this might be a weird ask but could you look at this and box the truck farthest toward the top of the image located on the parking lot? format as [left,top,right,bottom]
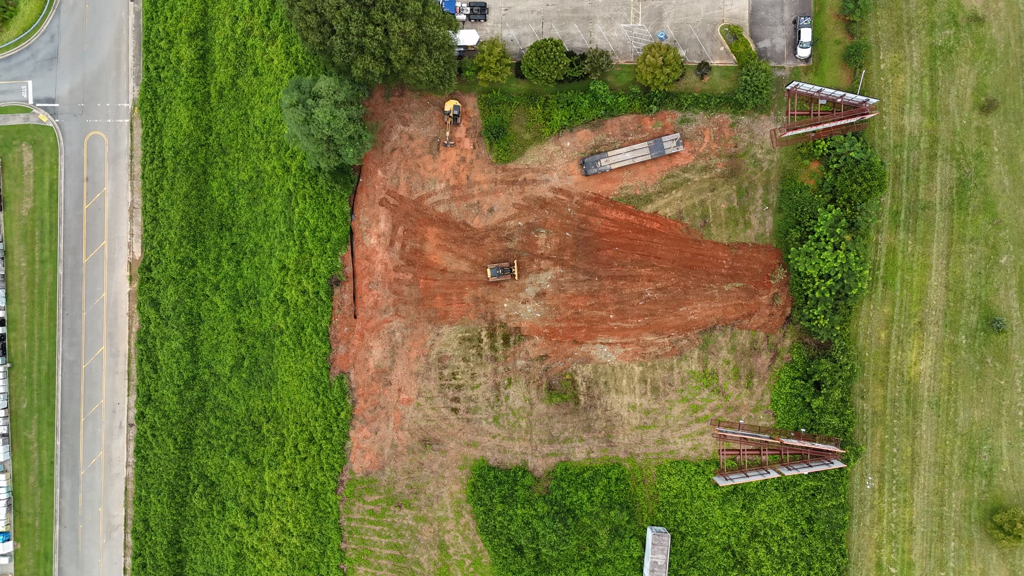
[429,0,489,22]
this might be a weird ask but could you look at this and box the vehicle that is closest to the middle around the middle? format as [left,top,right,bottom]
[487,260,518,282]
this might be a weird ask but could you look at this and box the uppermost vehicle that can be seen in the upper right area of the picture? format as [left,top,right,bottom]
[793,16,816,60]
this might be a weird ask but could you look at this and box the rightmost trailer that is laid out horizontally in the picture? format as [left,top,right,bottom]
[578,133,684,177]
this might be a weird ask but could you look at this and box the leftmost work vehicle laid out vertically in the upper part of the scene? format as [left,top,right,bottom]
[445,97,462,147]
